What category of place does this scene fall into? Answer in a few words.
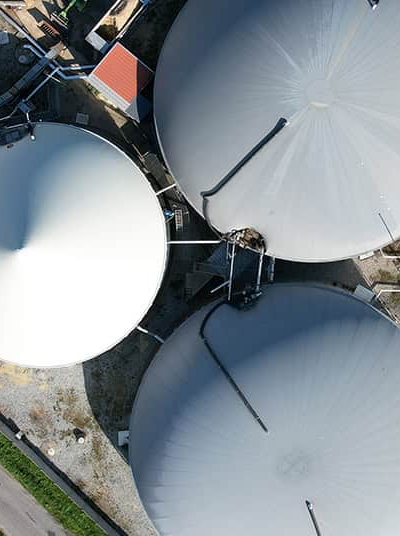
industrial area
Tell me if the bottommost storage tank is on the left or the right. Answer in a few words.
right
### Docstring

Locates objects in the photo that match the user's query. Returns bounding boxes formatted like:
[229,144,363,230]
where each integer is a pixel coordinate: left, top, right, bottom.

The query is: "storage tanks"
[0,122,173,367]
[155,0,400,261]
[130,281,400,536]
